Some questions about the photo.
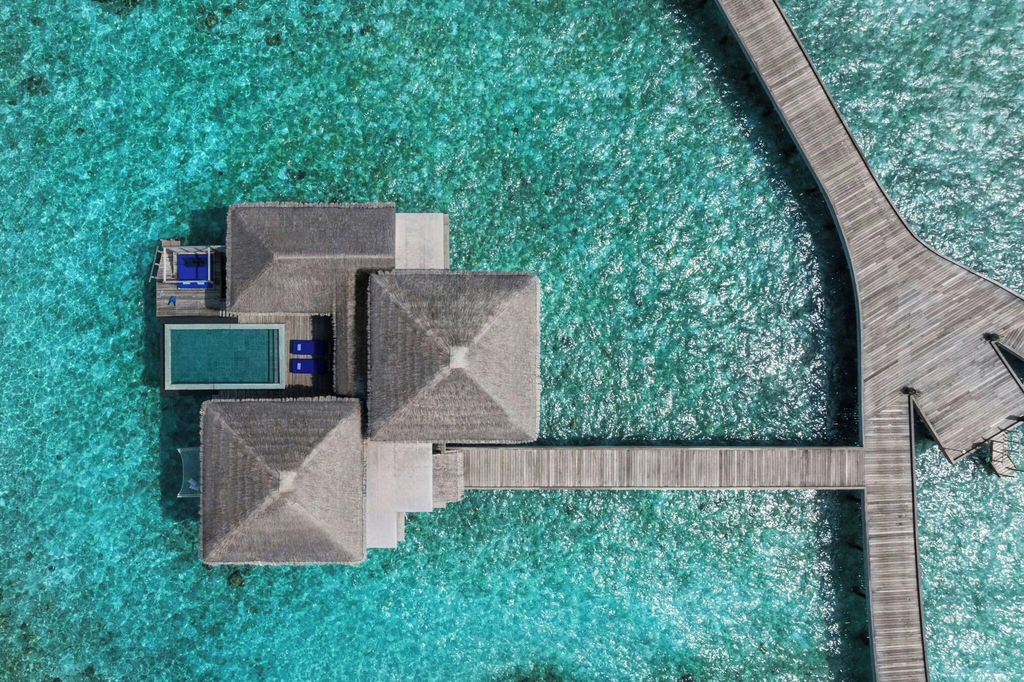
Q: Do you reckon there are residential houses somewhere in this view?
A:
Yes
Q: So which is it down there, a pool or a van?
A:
pool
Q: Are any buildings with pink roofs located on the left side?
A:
No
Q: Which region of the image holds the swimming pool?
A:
left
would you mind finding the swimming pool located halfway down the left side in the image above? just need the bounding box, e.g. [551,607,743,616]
[160,317,286,396]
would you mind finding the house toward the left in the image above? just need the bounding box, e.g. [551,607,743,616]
[157,199,543,567]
